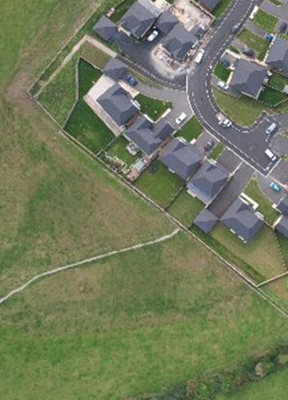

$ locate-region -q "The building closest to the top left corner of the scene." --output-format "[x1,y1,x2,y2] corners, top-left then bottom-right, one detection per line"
[95,16,118,40]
